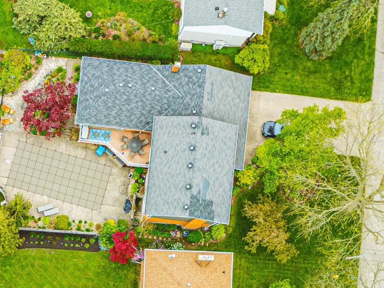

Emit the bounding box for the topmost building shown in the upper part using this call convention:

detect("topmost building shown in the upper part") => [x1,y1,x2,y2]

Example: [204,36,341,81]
[178,0,267,45]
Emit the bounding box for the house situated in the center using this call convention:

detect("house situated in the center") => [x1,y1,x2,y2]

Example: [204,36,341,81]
[75,51,253,235]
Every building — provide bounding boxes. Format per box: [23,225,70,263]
[75,51,253,235]
[178,0,267,45]
[138,249,234,288]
